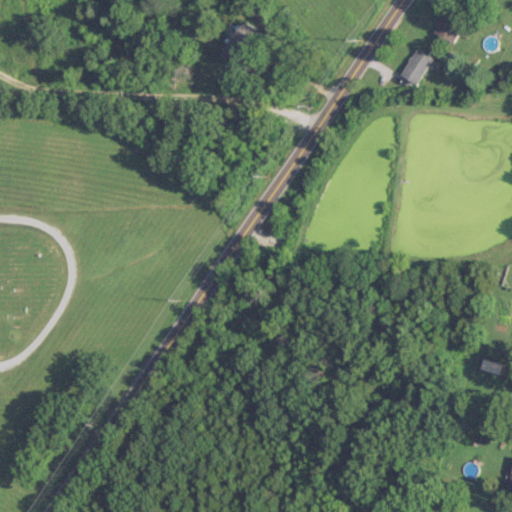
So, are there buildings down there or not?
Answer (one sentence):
Yes, a building appears in the view.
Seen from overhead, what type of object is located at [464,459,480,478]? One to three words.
swimming pool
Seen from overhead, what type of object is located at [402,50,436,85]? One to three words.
house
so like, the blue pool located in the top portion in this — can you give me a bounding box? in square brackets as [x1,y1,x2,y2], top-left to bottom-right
[482,36,502,52]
